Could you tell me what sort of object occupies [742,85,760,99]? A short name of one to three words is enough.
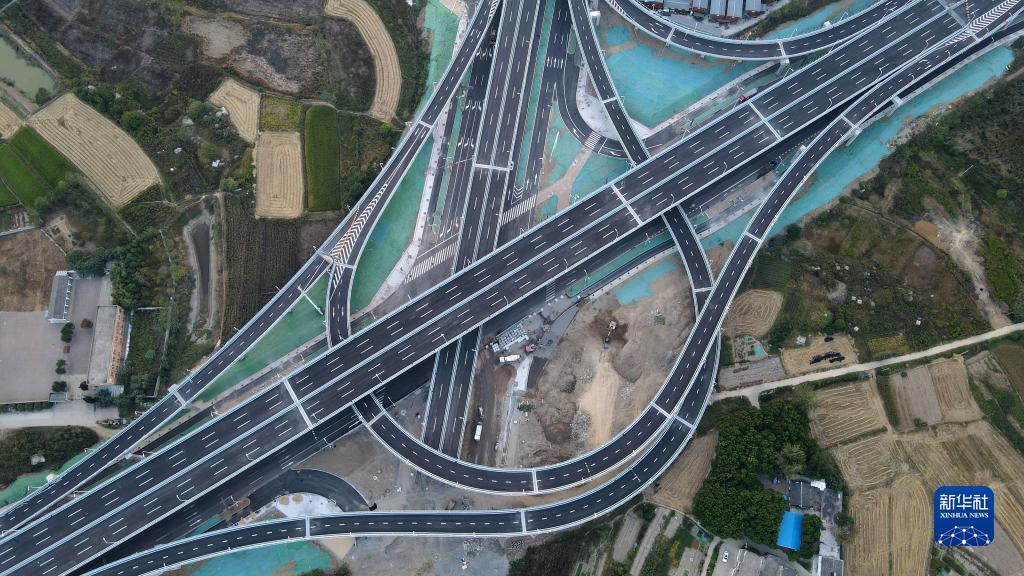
vehicle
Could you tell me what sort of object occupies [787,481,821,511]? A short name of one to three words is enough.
house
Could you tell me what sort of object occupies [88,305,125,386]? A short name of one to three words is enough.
building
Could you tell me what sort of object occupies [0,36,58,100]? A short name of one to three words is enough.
pond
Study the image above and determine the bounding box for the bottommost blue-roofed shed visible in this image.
[774,512,803,551]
